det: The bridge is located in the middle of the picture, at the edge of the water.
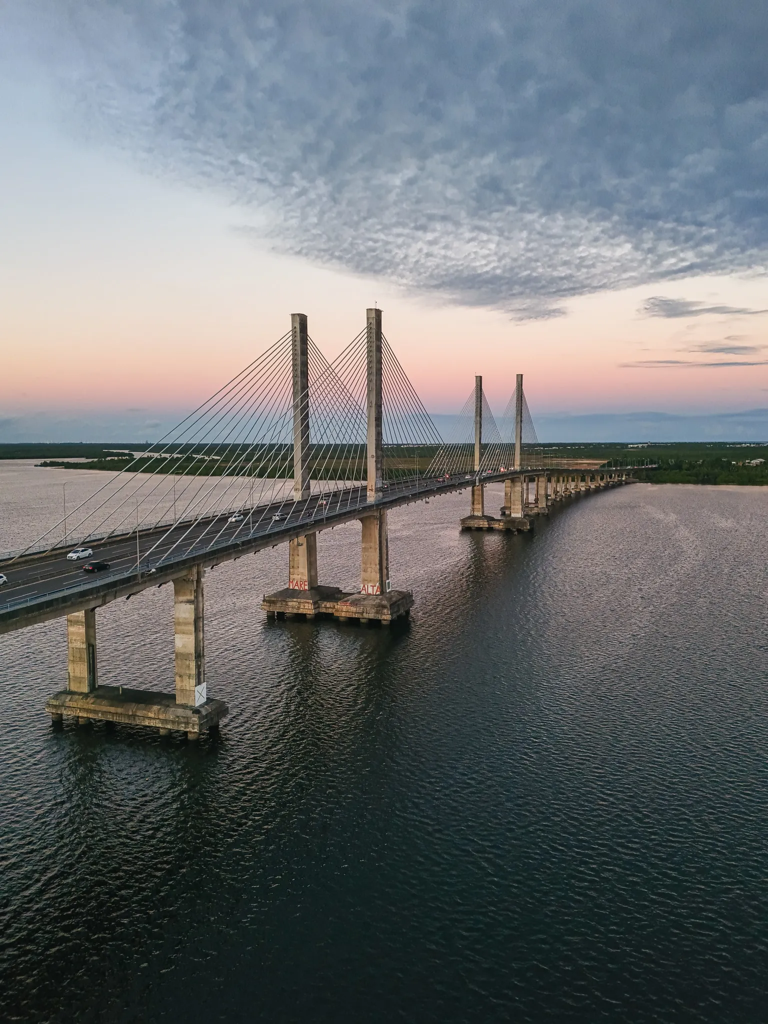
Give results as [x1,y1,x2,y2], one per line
[0,300,660,740]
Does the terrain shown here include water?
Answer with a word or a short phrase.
Yes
